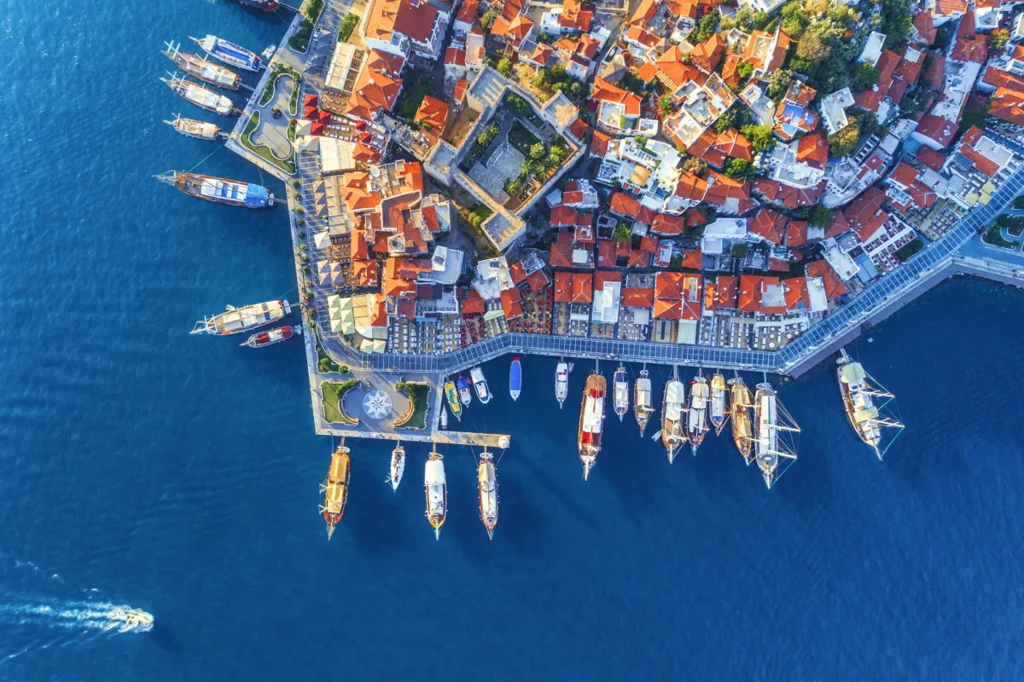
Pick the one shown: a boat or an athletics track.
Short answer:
boat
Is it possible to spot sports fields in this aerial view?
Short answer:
No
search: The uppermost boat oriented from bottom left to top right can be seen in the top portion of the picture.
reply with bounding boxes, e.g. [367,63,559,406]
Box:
[260,43,276,58]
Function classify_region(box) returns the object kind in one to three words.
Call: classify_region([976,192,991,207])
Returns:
umbrella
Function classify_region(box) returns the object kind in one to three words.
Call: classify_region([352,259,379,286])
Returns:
house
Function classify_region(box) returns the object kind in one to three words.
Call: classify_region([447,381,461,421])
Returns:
boat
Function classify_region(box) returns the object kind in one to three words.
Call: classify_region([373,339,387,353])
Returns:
umbrella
